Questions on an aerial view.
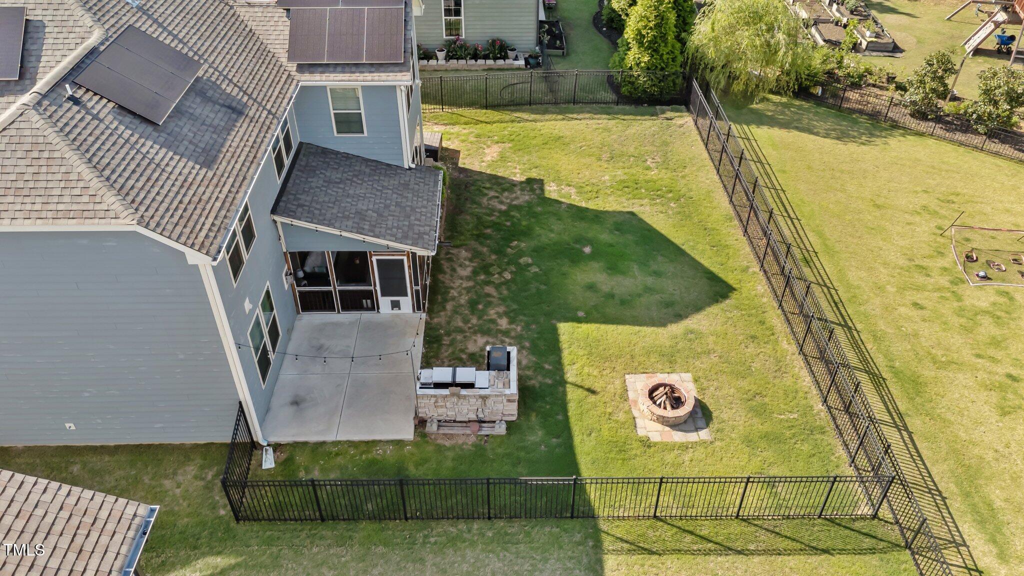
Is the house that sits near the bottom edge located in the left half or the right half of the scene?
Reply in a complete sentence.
The house that sits near the bottom edge is on the left side of the image.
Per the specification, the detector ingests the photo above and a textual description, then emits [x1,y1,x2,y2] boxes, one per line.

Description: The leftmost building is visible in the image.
[0,470,159,576]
